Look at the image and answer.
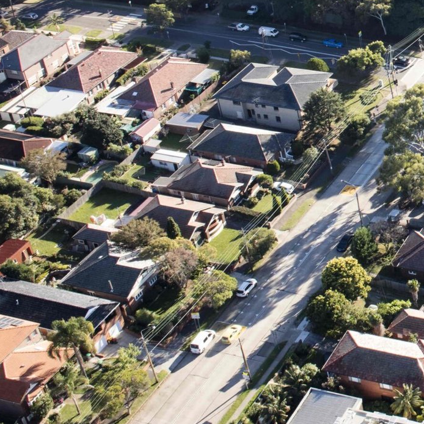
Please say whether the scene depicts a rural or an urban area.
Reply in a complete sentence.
The area shown here is urban.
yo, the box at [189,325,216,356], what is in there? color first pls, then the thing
white vehicle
